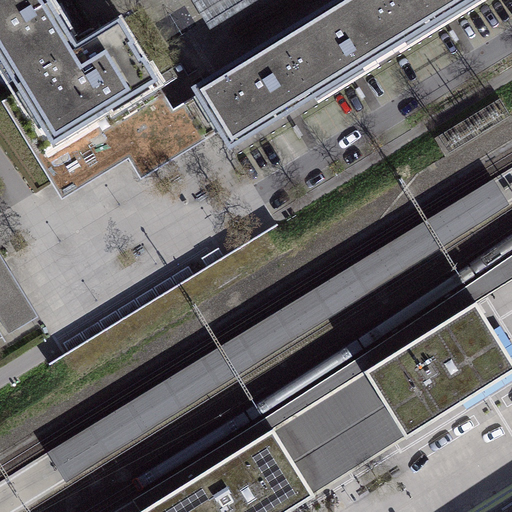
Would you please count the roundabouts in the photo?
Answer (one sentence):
No roundabouts are visible.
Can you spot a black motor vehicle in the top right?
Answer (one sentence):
Yes, a black motor vehicle is visible in the top right.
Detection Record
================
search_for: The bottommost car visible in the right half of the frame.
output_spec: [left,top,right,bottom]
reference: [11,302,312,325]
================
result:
[408,455,430,472]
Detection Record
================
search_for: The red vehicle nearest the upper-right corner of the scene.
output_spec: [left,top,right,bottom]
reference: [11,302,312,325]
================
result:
[336,94,352,116]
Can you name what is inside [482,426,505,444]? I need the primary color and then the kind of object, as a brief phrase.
white car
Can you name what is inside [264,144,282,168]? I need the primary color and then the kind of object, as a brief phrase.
black car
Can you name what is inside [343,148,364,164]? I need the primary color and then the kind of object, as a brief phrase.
black car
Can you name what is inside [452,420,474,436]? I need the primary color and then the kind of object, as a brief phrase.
white car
